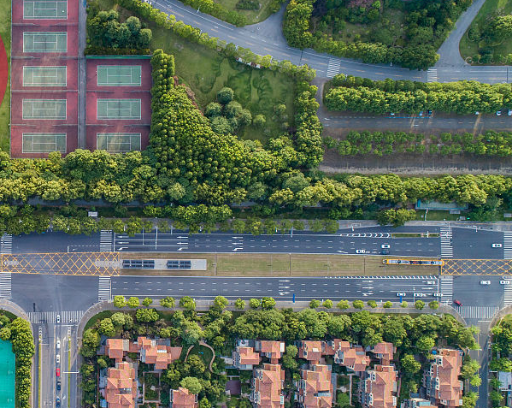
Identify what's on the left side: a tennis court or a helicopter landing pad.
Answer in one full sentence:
The one visible on the left side is a tennis court.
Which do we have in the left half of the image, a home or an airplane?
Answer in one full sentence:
It is a home that can be seen in the left half of the image.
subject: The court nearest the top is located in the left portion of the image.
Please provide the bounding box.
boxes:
[22,0,66,19]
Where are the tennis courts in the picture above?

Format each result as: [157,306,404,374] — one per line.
[22,32,66,52]
[22,132,66,152]
[97,65,141,85]
[22,66,66,86]
[97,99,141,119]
[22,99,66,119]
[22,0,66,19]
[97,132,141,152]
